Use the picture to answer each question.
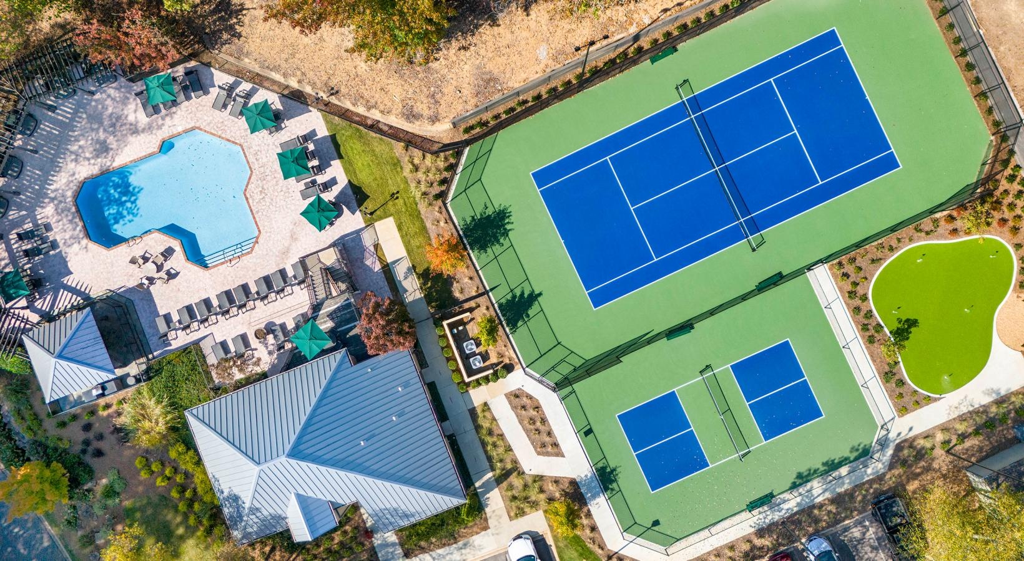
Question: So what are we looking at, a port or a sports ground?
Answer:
sports ground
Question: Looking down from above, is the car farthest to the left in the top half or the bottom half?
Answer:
bottom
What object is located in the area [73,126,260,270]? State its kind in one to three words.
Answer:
swimming pool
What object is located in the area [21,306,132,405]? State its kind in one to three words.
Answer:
building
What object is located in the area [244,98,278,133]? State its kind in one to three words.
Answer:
umbrella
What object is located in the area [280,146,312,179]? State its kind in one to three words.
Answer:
umbrella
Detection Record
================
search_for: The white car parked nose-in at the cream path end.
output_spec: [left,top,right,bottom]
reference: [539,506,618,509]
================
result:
[510,531,542,561]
